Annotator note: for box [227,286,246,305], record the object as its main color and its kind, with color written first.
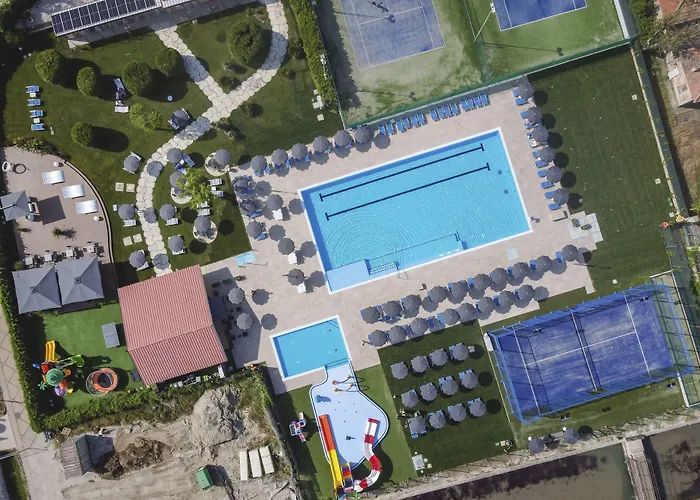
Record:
gray umbrella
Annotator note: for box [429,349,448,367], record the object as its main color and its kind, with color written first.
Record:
gray umbrella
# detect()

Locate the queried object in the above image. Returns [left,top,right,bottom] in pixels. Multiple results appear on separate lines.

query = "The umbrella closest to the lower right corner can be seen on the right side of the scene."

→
[562,427,580,446]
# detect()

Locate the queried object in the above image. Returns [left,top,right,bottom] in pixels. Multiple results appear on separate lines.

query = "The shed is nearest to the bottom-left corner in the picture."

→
[56,436,93,482]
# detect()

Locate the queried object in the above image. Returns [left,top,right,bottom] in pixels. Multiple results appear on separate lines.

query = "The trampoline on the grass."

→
[86,366,120,397]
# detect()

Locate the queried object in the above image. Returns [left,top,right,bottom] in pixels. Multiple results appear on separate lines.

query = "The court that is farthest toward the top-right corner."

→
[494,0,587,31]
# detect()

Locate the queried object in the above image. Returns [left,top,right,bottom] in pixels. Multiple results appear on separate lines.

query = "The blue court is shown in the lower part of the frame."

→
[490,283,694,422]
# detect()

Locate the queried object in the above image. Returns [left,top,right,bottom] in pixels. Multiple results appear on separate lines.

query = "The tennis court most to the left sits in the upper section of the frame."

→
[339,0,445,69]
